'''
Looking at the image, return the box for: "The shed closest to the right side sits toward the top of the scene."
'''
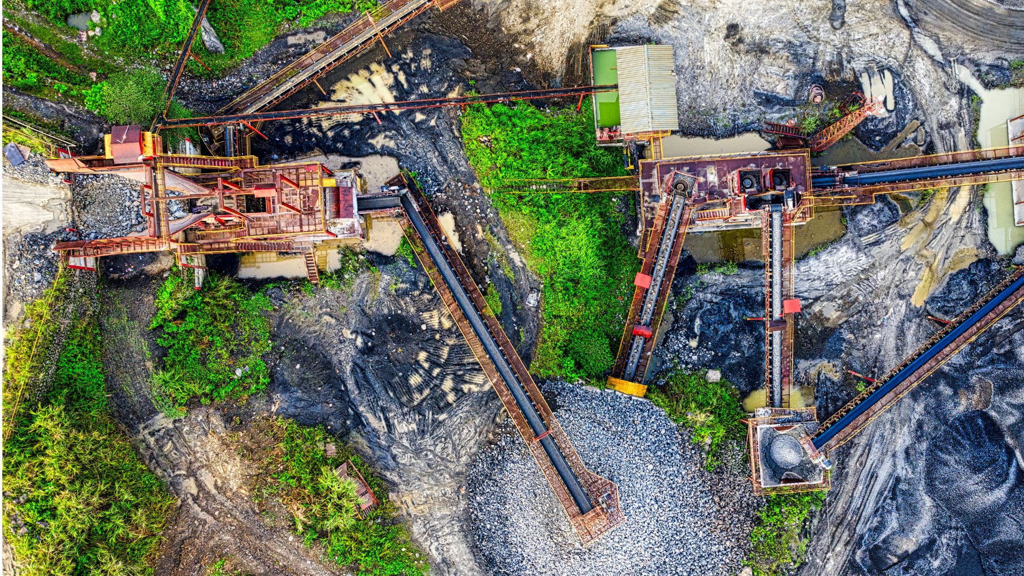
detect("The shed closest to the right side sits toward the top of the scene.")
[617,45,679,133]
